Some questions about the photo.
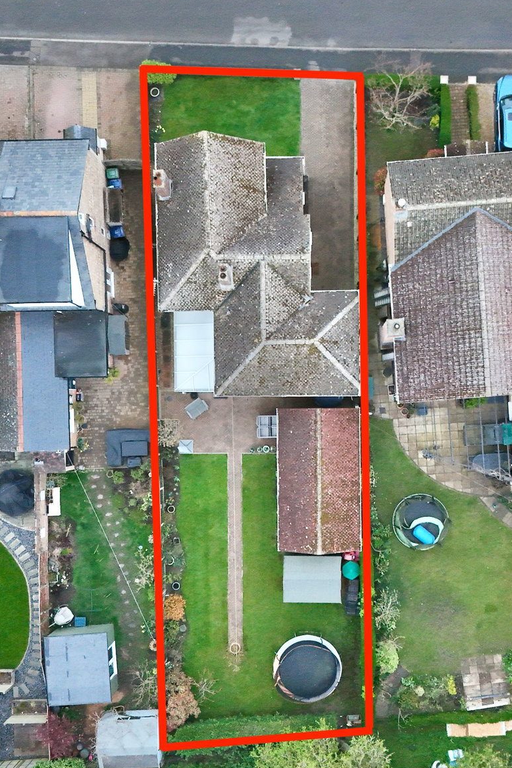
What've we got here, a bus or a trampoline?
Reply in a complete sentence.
Visible in the photo is a trampoline.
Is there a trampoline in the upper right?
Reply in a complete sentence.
No, the scene shows no trampoline in the upper right.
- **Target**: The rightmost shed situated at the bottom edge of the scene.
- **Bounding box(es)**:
[95,705,164,768]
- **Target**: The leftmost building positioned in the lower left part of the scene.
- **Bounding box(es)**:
[43,625,117,708]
